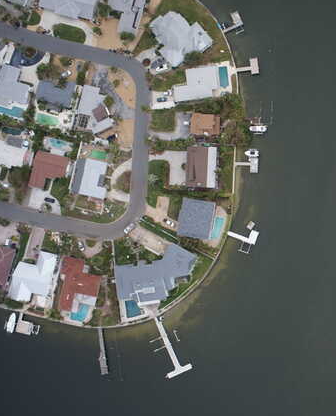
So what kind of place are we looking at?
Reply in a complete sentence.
This image shows a residential area.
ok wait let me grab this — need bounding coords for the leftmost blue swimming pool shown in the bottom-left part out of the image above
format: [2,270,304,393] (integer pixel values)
[70,302,90,321]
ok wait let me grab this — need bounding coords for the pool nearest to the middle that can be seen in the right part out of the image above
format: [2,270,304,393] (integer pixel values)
[210,215,226,241]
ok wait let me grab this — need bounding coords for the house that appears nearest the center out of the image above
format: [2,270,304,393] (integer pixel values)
[177,197,217,238]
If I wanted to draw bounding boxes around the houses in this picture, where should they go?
[6,252,60,305]
[190,112,221,134]
[188,137,218,188]
[0,136,32,178]
[150,10,214,73]
[115,242,199,305]
[0,65,35,104]
[177,197,217,238]
[27,151,72,191]
[173,66,222,99]
[38,0,99,20]
[36,79,78,109]
[110,0,148,36]
[57,254,103,311]
[76,84,115,136]
[72,158,110,199]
